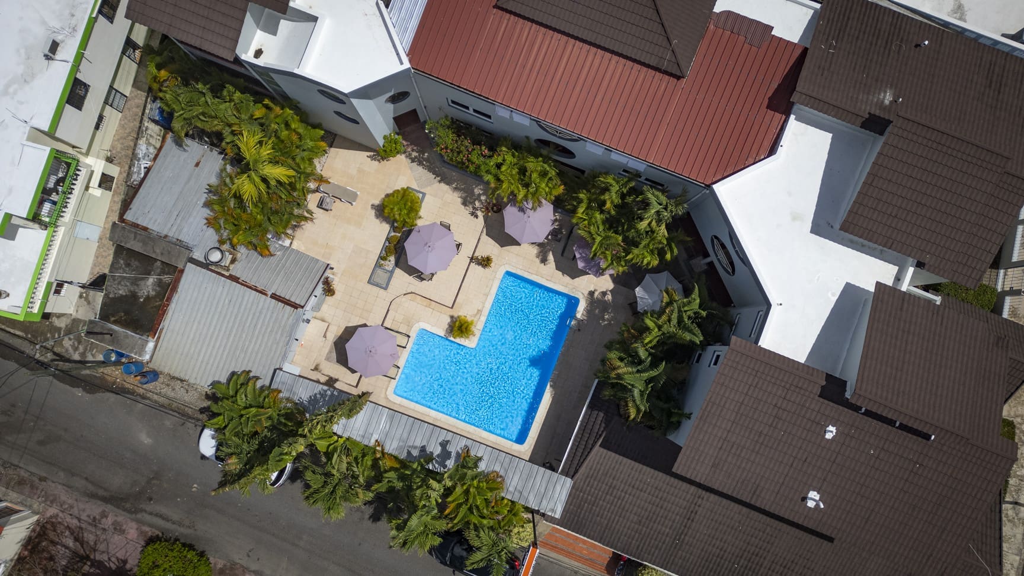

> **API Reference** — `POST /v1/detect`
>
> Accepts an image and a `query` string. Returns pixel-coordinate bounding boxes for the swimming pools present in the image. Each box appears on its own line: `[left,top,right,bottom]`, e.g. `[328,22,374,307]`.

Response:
[386,263,587,452]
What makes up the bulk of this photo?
buildings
